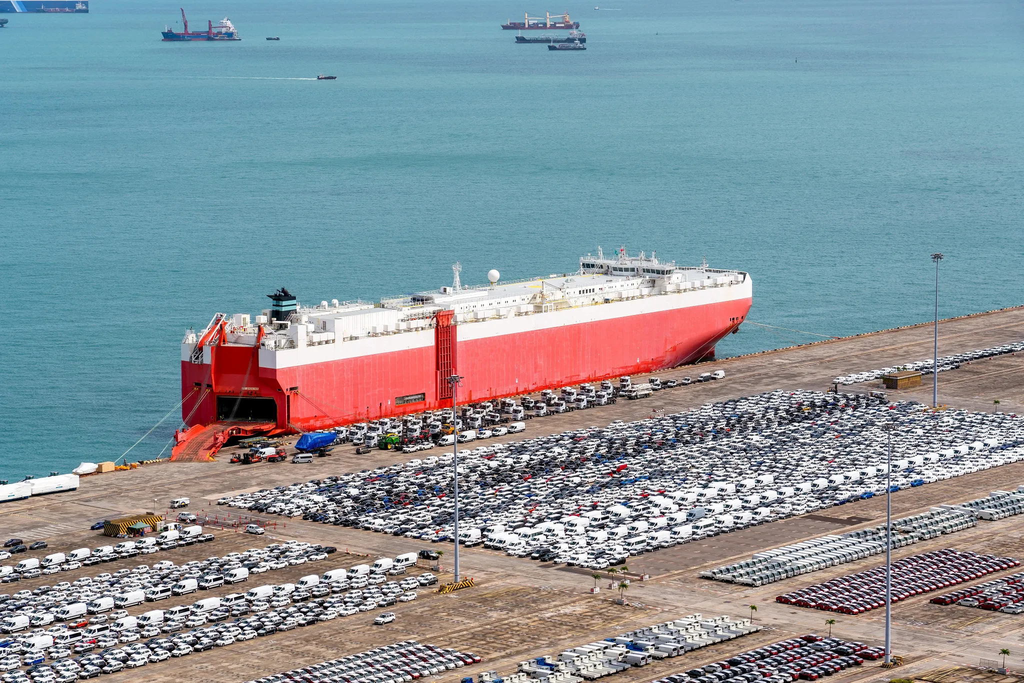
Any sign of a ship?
Yes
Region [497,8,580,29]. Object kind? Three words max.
ship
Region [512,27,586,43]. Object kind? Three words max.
ship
